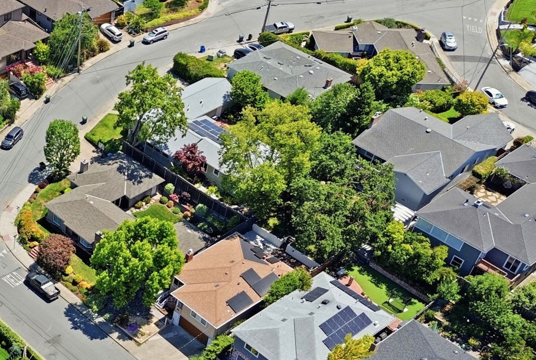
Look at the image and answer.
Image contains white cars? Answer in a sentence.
Yes, looking at the shot, I can spot a white car.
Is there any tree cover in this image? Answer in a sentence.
Yes, some tree cover is visible.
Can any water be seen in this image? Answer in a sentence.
No, the scene doesn't show any water.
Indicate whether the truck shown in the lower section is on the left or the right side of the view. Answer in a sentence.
The truck shown in the lower section sits on the left side.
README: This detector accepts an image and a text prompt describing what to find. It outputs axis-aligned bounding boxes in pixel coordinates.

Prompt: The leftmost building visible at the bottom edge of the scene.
[168,235,296,348]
